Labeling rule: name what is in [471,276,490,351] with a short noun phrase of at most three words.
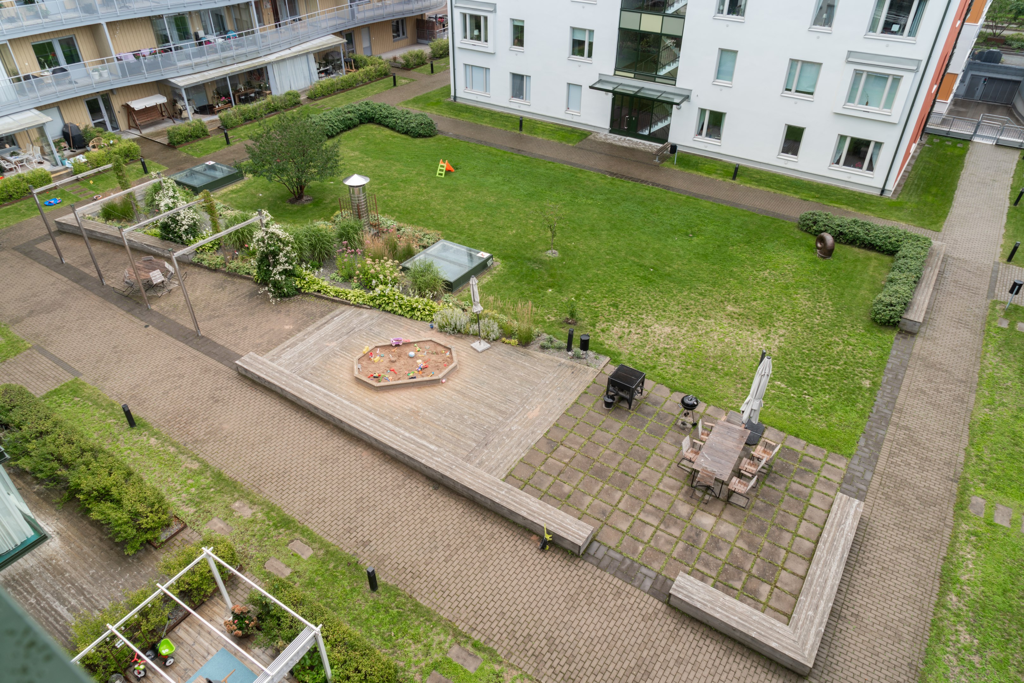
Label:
umbrella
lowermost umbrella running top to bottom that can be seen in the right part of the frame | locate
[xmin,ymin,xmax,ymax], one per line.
[736,345,774,445]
